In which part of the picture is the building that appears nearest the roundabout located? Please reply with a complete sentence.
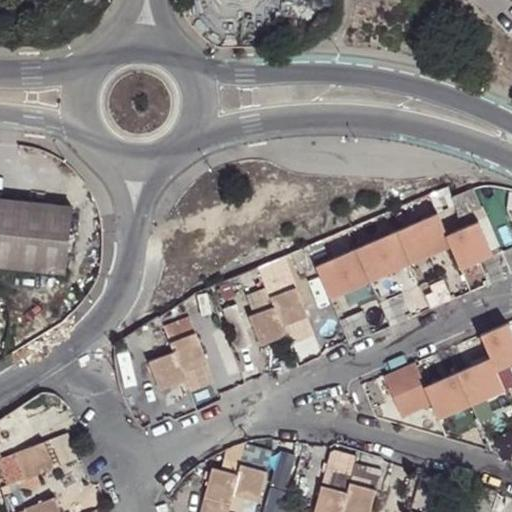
The building that appears nearest the roundabout sits in the left section of the image.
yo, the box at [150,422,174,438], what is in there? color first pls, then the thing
white vehicle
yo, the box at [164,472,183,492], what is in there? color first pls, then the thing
white car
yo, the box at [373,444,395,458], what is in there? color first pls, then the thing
white vehicle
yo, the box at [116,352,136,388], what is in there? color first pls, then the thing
white camper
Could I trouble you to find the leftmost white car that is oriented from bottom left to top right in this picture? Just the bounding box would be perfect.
[80,406,96,424]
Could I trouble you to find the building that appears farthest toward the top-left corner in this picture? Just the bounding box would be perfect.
[0,190,72,276]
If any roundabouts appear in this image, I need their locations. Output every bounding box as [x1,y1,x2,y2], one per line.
[80,43,200,163]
